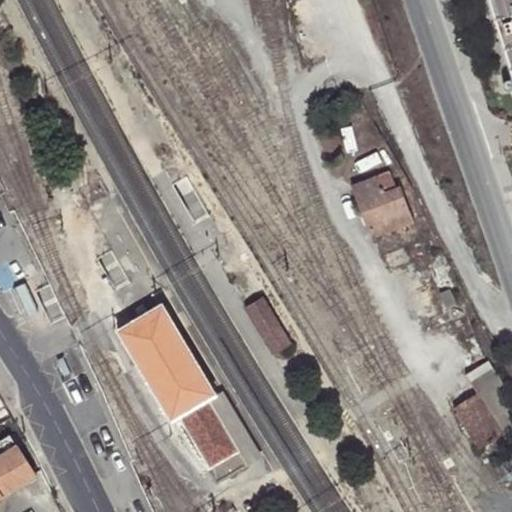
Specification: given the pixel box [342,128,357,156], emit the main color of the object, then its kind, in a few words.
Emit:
white camper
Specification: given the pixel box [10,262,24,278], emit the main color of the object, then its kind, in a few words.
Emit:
white vehicle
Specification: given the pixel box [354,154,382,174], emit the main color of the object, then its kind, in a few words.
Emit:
white camper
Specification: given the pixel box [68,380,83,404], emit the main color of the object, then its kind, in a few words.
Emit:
white vehicle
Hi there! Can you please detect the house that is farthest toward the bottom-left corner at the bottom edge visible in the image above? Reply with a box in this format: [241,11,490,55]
[0,445,36,502]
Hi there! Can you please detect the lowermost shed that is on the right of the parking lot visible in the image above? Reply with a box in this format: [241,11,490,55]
[211,454,247,483]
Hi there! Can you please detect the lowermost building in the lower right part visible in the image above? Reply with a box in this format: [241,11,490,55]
[454,396,502,458]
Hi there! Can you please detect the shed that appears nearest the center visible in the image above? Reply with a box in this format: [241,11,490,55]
[246,294,294,354]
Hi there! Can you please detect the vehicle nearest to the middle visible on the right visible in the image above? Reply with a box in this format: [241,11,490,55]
[342,194,356,220]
